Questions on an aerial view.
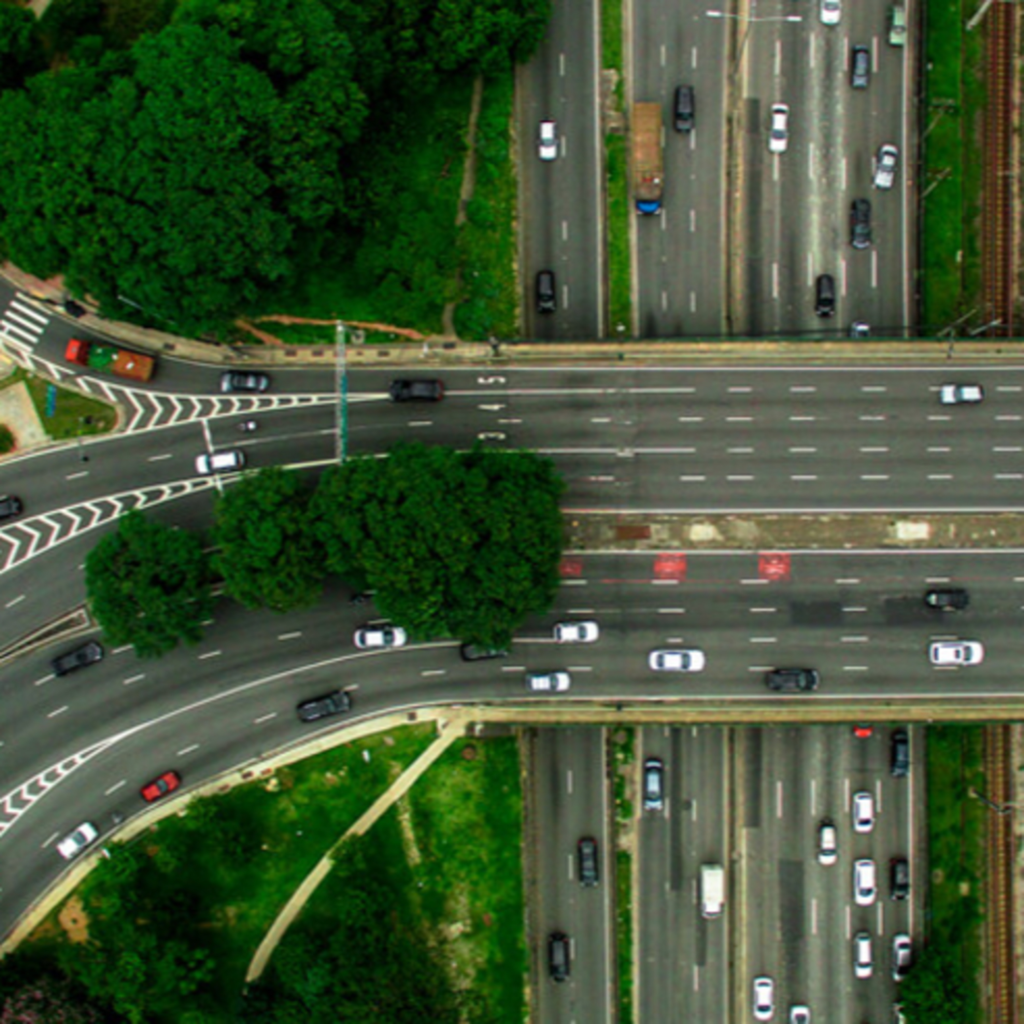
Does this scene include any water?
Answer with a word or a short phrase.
No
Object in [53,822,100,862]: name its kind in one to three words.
car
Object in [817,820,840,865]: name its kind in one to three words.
car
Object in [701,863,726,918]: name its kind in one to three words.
vehicle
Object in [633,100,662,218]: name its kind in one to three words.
truck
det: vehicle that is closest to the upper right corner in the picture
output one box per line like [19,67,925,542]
[887,4,909,47]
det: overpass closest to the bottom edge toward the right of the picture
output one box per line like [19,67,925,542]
[489,336,1024,727]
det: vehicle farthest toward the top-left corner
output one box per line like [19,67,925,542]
[64,334,158,382]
